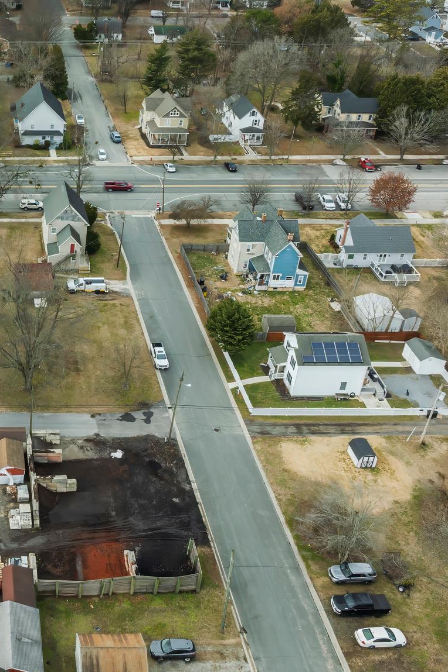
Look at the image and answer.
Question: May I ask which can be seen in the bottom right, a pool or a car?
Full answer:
The one visible in the bottom right is a car.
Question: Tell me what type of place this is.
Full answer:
The area seen from above is a residential area.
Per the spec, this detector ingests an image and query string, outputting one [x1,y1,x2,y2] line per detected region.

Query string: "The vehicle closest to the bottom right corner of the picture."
[352,623,412,651]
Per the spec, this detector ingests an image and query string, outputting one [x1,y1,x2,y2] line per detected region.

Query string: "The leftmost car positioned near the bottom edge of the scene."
[145,633,203,663]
